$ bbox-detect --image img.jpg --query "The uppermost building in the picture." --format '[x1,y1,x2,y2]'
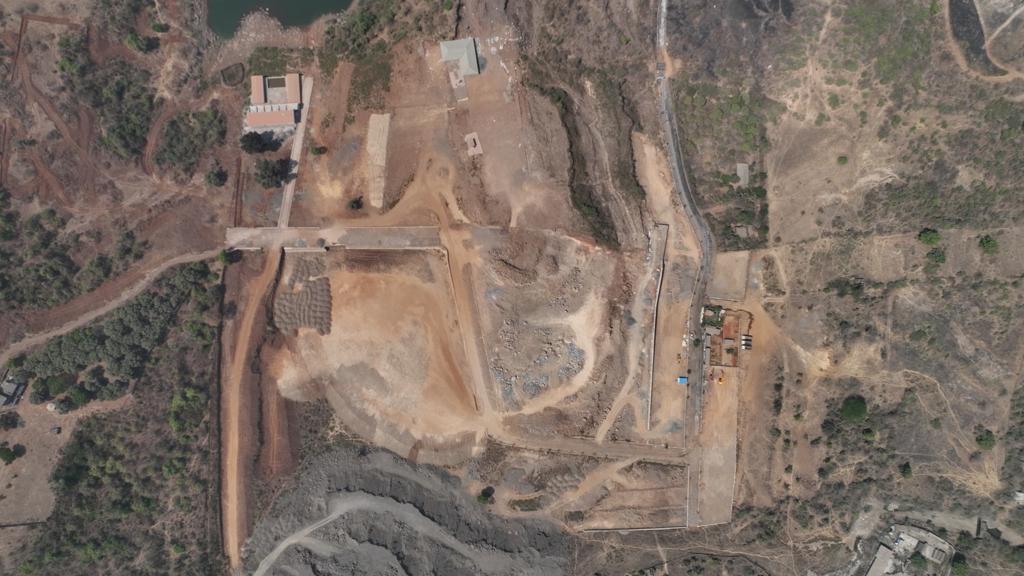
[440,38,479,76]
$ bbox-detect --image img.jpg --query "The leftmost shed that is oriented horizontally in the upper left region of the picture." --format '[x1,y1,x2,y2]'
[246,109,296,128]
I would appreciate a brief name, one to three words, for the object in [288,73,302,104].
shed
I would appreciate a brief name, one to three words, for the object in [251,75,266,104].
shed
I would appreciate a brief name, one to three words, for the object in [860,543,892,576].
building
